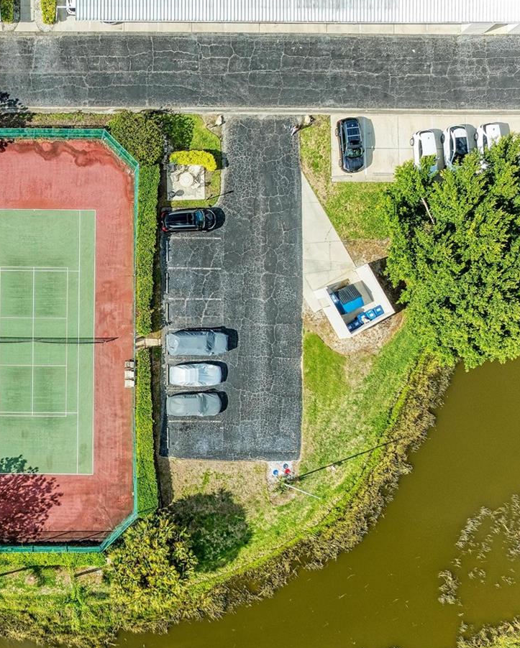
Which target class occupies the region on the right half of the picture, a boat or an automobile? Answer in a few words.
automobile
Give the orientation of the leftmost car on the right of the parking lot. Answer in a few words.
vertically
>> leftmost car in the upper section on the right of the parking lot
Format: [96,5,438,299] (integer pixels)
[338,116,368,172]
